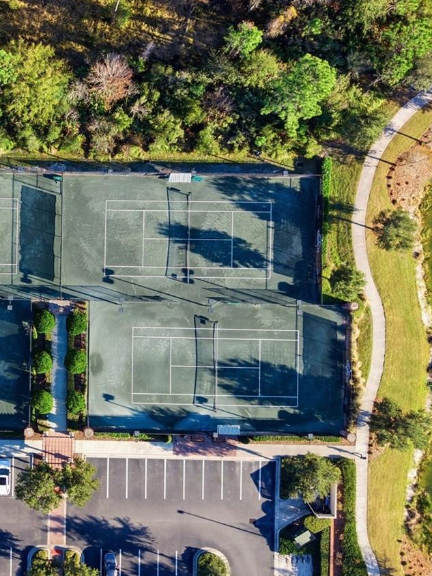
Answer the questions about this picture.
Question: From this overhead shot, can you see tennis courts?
Yes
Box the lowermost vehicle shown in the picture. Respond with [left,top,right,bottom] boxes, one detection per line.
[103,553,121,576]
